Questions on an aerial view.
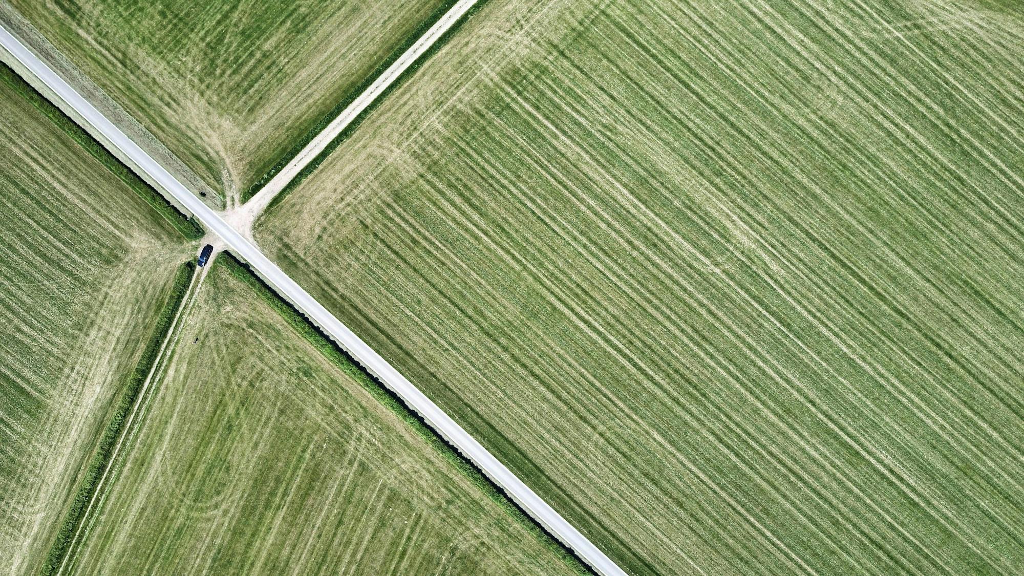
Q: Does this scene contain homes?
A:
No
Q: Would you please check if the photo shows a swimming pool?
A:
No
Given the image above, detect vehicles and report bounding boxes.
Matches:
[198,245,213,267]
